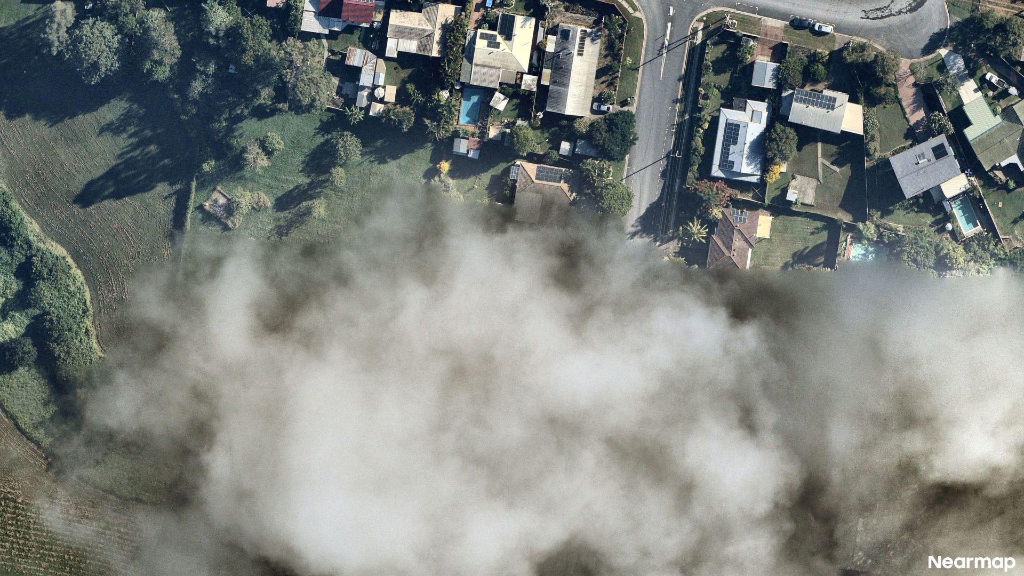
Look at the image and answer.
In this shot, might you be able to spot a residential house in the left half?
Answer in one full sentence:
Yes, a residential house can be seen in the left half.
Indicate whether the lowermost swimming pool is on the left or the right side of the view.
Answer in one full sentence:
The lowermost swimming pool is on the right side of the image.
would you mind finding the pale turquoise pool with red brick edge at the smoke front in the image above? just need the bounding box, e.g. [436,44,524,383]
[844,235,890,268]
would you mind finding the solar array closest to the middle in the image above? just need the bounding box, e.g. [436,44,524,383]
[535,166,563,183]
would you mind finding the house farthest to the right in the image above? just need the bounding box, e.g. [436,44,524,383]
[962,96,1024,172]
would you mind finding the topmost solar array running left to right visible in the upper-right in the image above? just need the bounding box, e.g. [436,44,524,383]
[794,89,836,110]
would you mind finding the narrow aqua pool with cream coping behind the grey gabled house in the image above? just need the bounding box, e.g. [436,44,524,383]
[950,193,993,235]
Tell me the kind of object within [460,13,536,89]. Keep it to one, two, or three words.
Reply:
house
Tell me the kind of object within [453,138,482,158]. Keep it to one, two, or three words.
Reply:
shed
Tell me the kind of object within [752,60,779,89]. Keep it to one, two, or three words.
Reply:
building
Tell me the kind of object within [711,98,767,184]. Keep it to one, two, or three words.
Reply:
house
